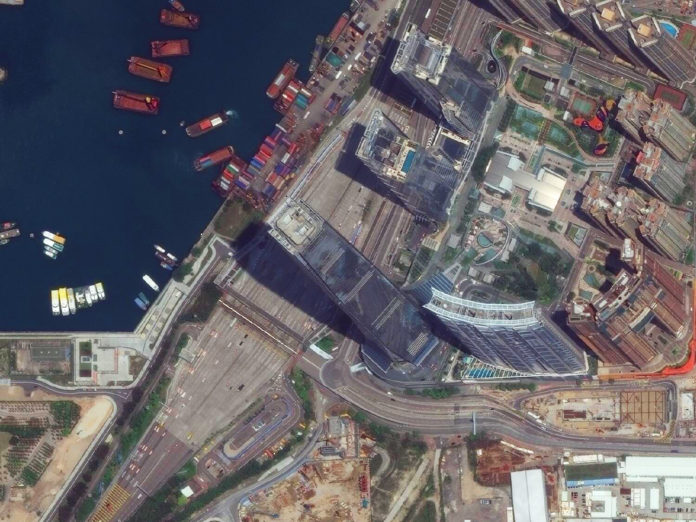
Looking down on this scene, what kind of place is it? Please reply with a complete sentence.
The picture captures a port.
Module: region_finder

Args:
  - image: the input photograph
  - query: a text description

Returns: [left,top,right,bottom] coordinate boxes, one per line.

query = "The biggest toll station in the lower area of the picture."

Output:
[152,300,299,452]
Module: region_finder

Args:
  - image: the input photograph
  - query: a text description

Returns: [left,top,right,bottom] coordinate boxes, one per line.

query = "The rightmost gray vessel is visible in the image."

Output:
[310,37,322,70]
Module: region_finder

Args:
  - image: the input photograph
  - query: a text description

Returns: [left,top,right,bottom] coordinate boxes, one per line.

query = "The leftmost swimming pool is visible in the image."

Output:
[402,149,416,174]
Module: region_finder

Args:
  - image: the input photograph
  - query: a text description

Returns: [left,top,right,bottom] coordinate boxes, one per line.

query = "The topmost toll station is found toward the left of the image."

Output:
[218,283,307,355]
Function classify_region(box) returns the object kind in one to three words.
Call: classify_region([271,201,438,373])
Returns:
building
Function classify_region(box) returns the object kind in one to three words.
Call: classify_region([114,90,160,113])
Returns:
ship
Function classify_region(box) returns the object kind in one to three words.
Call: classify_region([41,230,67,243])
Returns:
vessel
